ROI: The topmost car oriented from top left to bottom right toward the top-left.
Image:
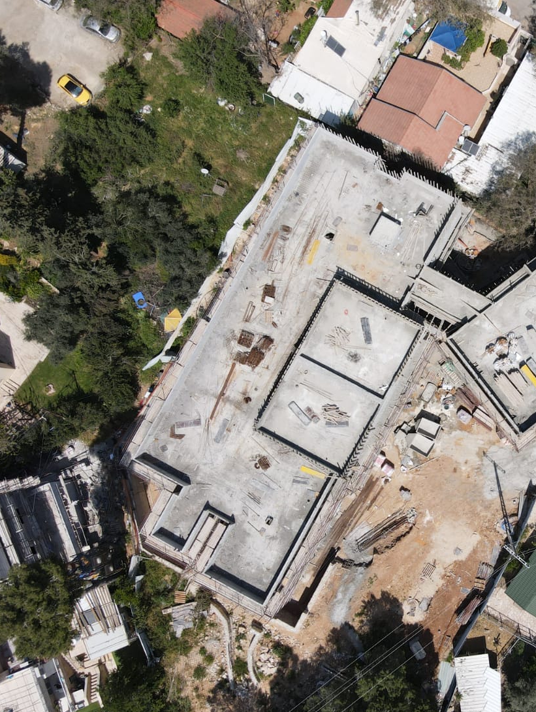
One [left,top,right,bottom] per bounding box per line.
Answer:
[78,10,124,48]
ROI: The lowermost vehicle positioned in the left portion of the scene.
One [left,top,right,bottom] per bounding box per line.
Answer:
[54,69,95,107]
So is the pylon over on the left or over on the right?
right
